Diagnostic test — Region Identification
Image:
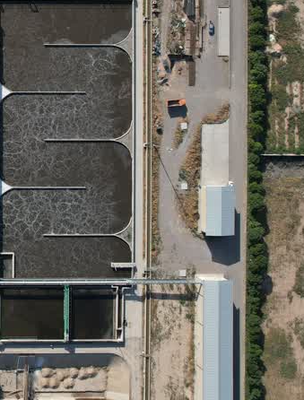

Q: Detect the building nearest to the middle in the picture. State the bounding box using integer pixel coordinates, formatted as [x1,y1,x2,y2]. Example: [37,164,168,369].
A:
[194,183,236,238]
